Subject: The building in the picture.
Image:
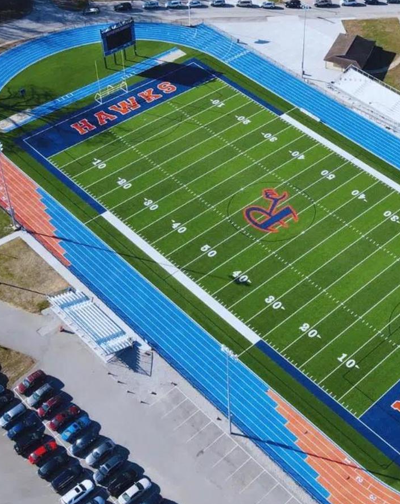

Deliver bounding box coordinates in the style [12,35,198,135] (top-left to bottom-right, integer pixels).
[324,29,375,72]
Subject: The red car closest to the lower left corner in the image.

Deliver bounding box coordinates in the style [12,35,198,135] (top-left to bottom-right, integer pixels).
[26,438,60,467]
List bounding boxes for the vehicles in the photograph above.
[16,424,46,452]
[285,0,302,7]
[142,0,159,9]
[35,449,73,481]
[0,396,30,425]
[96,451,128,481]
[118,477,151,504]
[340,0,357,5]
[61,479,95,504]
[69,428,102,457]
[165,0,182,7]
[189,0,205,7]
[209,0,227,6]
[6,412,41,439]
[35,392,66,420]
[135,486,169,504]
[60,414,93,442]
[0,391,16,409]
[235,0,253,6]
[107,465,140,497]
[86,440,115,465]
[114,1,132,10]
[50,461,85,493]
[316,0,333,5]
[260,1,277,9]
[48,405,81,432]
[85,493,108,504]
[26,379,57,407]
[16,369,47,393]
[26,438,60,467]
